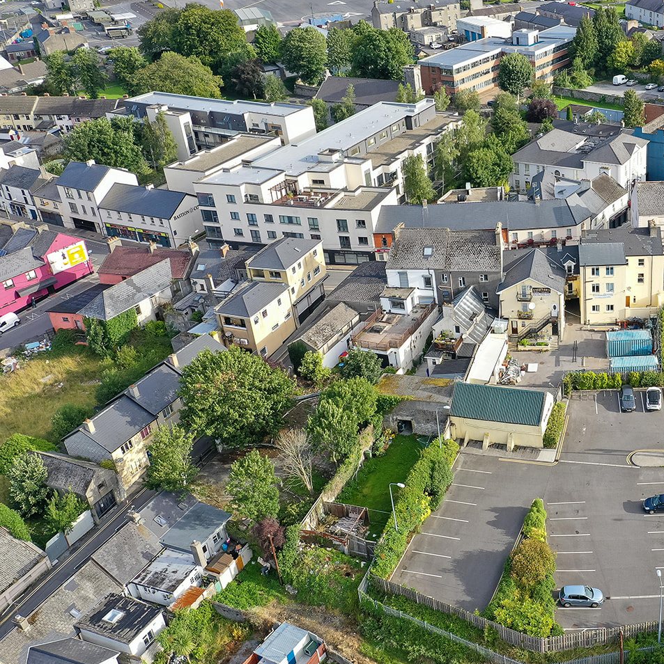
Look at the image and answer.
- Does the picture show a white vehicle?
Yes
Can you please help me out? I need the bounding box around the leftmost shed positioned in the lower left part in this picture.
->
[0,530,57,620]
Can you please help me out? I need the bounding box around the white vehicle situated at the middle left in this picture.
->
[0,313,26,334]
